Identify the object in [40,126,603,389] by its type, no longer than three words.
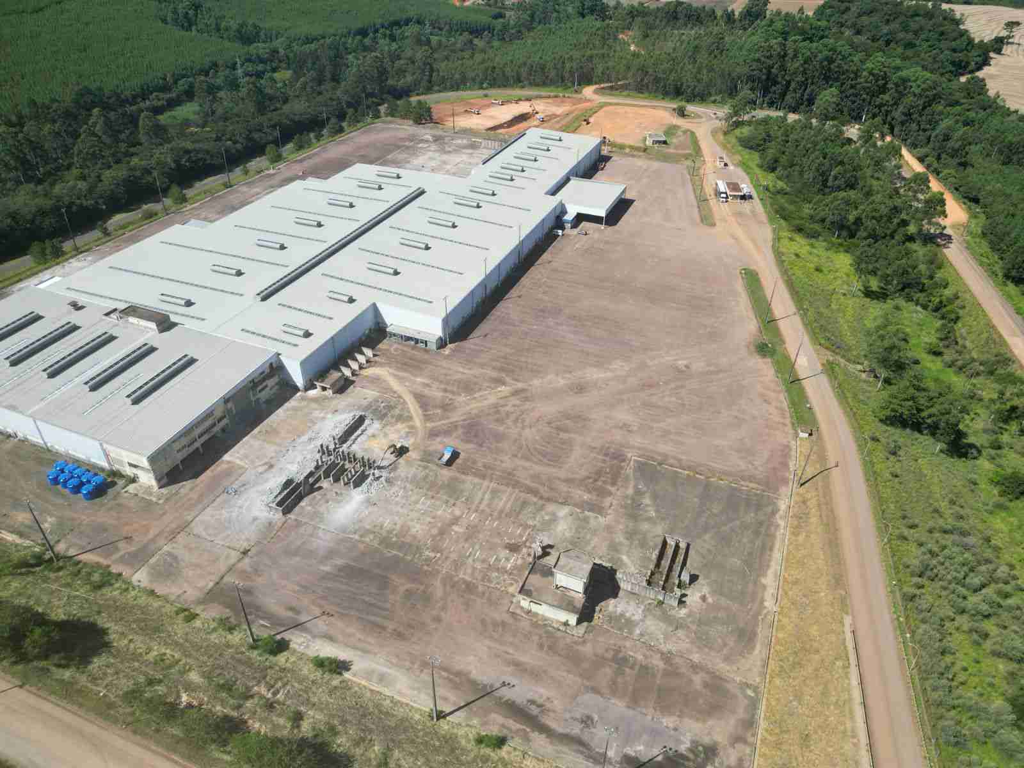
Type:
building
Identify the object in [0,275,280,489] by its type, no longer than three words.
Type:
building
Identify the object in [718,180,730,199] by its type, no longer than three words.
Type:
vehicle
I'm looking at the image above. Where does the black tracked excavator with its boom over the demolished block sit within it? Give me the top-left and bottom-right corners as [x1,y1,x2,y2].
[378,439,413,465]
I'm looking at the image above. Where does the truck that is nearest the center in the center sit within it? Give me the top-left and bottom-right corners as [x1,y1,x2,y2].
[437,442,459,466]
